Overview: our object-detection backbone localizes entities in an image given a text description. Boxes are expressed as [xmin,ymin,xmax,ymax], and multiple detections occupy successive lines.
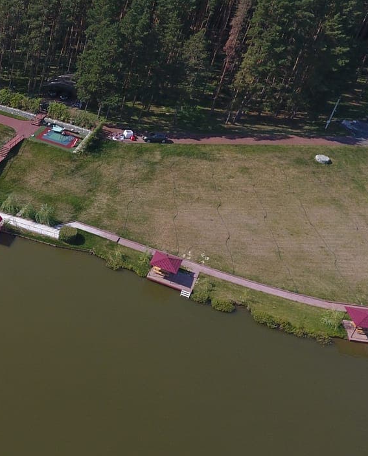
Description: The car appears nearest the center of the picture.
[143,131,172,144]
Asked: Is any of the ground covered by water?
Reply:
Yes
